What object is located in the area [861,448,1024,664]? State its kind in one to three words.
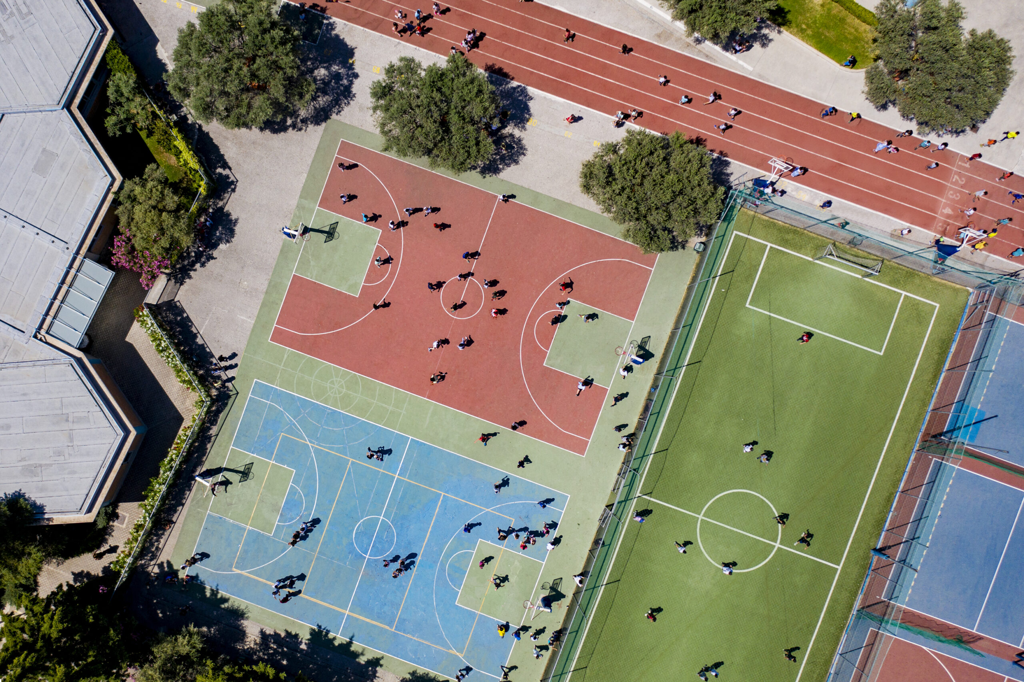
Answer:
sports court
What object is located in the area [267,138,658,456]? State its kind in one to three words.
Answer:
basketball court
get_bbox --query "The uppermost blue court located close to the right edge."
[921,292,1024,481]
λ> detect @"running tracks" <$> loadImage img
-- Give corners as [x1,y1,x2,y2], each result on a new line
[288,0,1024,268]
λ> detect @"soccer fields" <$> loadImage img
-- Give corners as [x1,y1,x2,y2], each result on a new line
[541,205,971,682]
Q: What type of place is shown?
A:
sports ground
